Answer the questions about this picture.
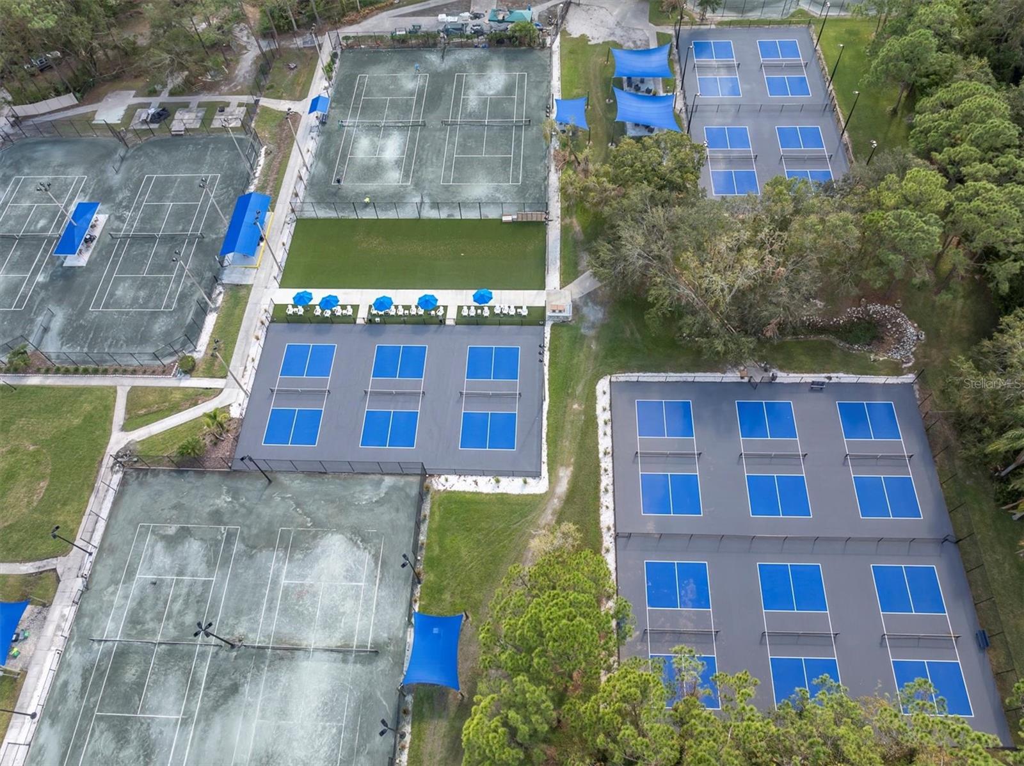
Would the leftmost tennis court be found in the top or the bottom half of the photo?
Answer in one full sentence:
The leftmost tennis court is in the top half of the image.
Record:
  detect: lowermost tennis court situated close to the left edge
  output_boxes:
[24,469,273,766]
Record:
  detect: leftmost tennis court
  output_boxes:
[0,136,128,366]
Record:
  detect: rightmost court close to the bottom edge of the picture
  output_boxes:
[841,541,1014,748]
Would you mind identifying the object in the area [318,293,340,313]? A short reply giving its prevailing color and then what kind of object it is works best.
blue umbrella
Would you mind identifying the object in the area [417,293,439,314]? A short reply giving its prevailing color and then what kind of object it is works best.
blue umbrella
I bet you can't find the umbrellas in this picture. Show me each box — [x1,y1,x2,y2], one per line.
[471,288,493,308]
[293,289,314,309]
[318,293,340,313]
[372,295,394,315]
[417,293,439,314]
